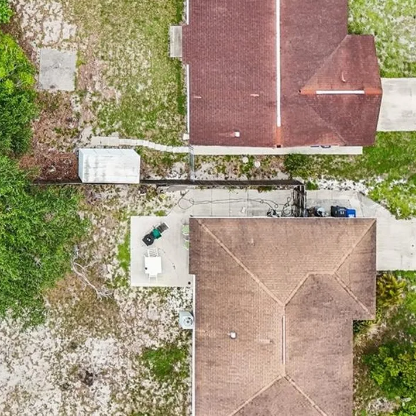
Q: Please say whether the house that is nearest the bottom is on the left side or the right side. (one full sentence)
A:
It is on the right.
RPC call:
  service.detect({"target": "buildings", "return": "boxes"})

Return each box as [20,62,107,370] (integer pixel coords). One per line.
[182,0,384,149]
[79,148,142,183]
[189,215,376,416]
